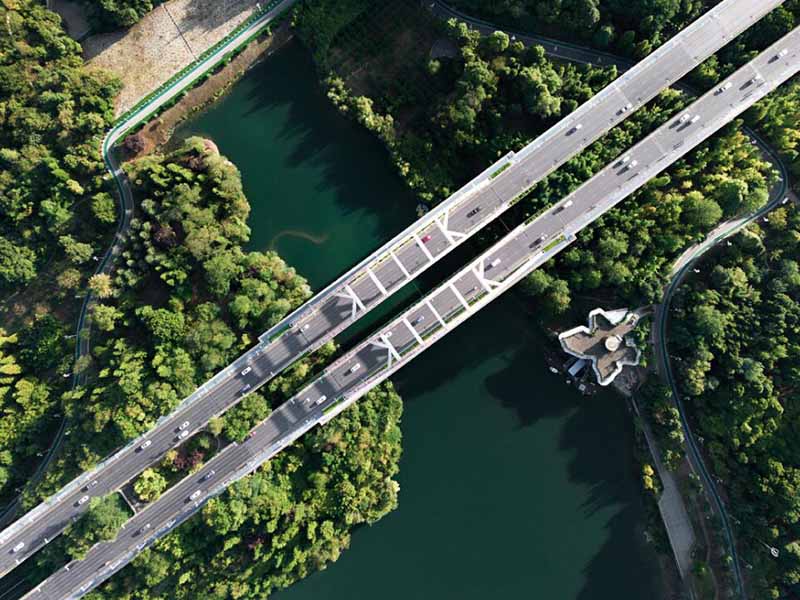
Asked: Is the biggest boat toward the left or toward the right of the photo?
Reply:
right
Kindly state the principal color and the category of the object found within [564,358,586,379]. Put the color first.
blue boat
